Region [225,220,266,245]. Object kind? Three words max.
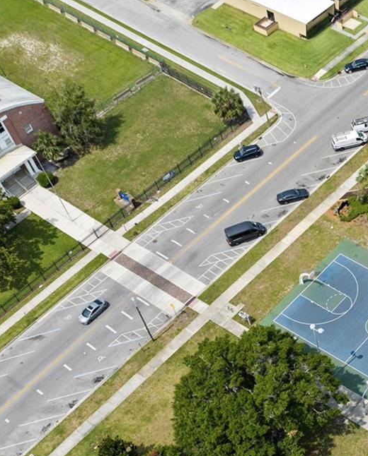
vehicle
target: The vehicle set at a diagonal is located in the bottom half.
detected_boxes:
[76,298,113,326]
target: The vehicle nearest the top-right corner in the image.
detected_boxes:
[345,59,368,73]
